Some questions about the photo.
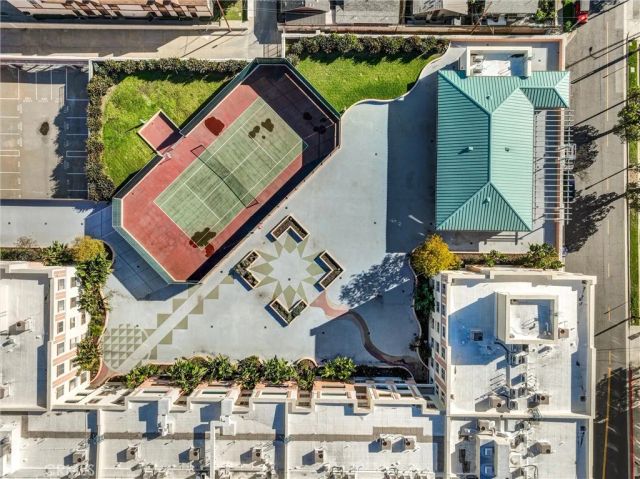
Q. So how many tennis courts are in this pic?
1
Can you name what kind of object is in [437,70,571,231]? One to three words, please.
building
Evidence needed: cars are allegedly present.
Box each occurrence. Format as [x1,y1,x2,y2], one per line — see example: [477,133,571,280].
[565,169,580,199]
[577,0,594,23]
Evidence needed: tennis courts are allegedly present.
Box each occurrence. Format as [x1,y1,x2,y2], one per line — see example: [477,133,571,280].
[122,64,342,285]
